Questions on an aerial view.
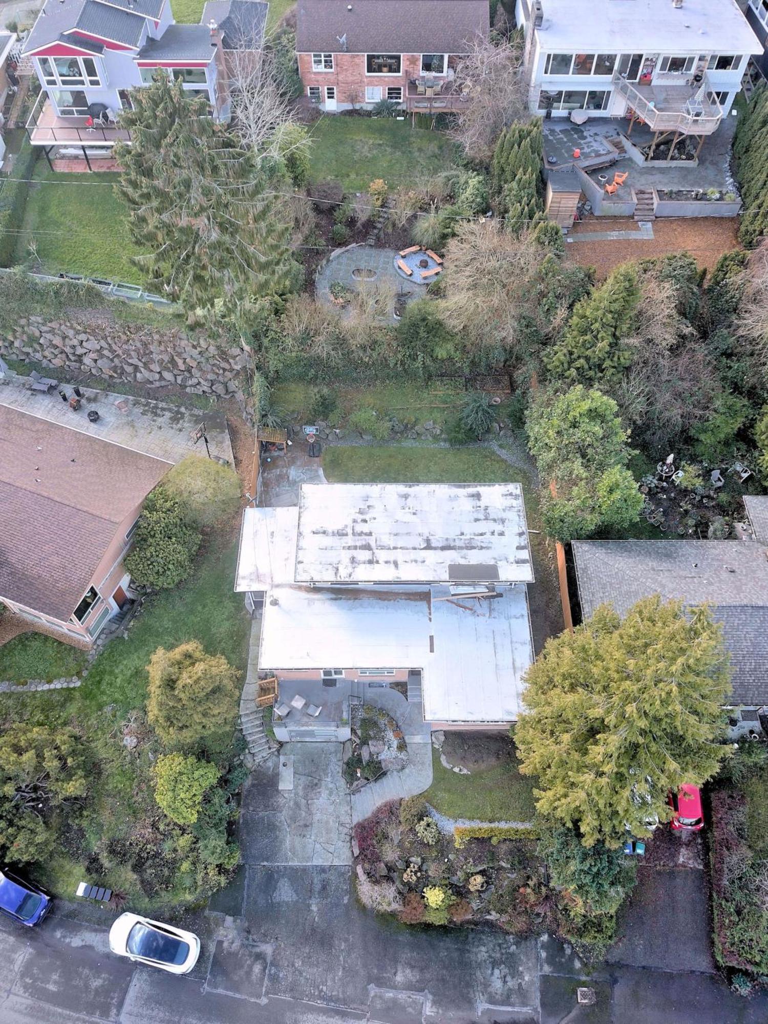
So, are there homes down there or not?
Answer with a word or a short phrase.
Yes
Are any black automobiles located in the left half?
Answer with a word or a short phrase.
No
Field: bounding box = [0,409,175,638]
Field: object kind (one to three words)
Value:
house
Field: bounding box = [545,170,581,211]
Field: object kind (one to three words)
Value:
shed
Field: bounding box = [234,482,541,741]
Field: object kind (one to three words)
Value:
house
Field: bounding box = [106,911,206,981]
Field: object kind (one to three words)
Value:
car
